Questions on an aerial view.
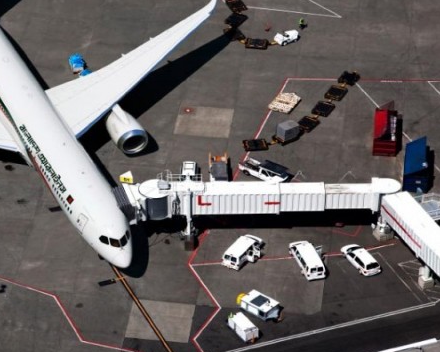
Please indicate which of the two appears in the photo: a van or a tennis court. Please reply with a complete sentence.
This aerial view contains a van.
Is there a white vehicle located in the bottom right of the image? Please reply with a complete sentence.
Yes, a white vehicle can be seen in the bottom right of the image.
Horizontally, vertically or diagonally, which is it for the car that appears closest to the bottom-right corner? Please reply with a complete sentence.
The car that appears closest to the bottom-right corner is oriented diagonally.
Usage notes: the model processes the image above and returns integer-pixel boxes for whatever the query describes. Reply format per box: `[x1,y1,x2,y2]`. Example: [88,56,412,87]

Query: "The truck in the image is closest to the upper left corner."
[63,50,86,74]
